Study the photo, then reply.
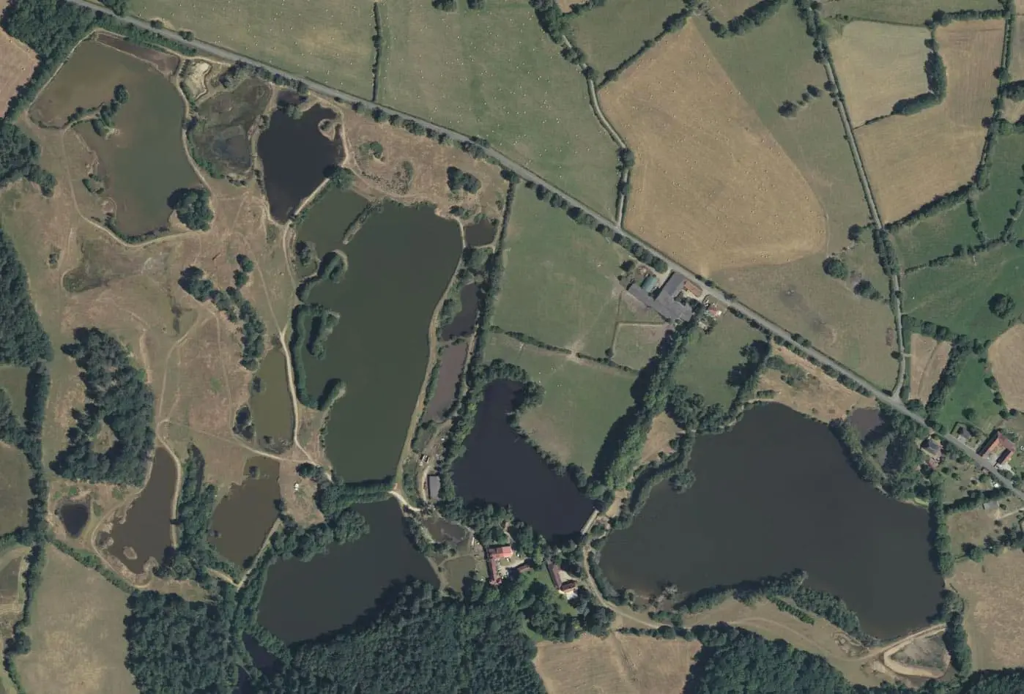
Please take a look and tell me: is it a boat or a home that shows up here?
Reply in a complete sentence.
Of the two, only a home appears.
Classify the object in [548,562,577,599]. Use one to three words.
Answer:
house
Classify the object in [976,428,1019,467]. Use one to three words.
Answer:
house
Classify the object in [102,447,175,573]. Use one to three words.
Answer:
pond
